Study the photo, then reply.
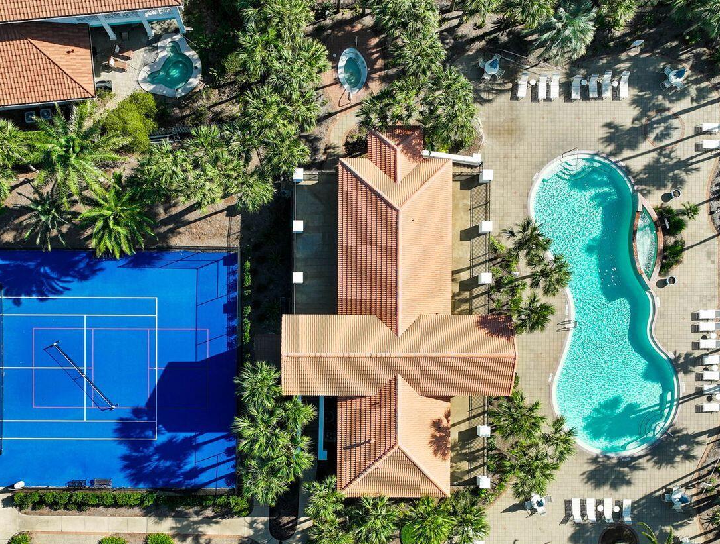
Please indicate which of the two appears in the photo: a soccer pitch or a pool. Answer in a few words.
pool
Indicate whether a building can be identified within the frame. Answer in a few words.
Yes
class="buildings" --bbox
[281,124,524,500]
[0,0,189,111]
